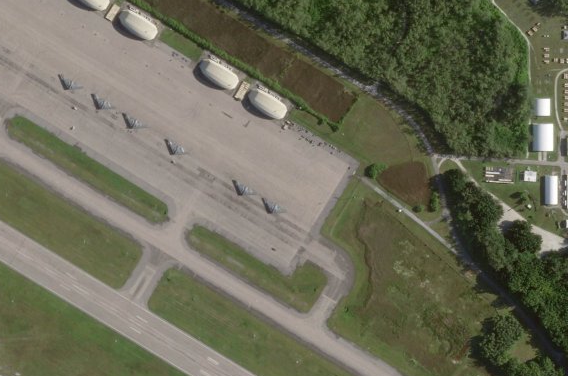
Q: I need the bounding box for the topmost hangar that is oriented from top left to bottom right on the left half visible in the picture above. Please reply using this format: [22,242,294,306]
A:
[119,8,158,40]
